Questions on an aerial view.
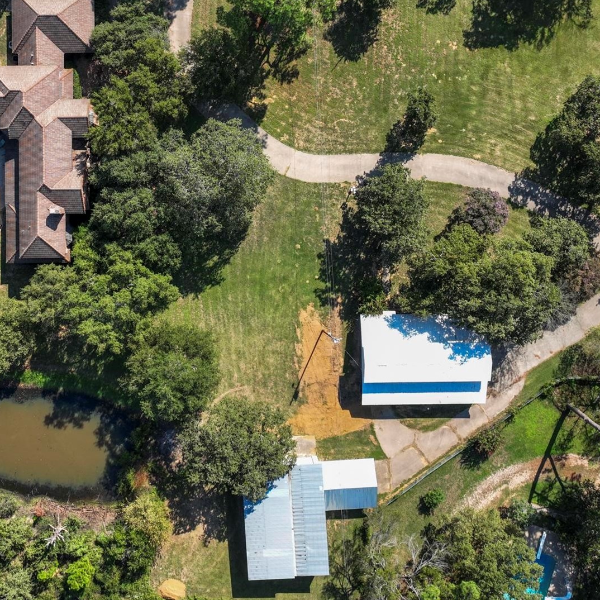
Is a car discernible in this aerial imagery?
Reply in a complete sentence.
No, the frame has no car in it.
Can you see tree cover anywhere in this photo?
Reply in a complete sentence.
Yes, tree cover shows up in the scene.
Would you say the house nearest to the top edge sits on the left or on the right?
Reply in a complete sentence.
The house nearest to the top edge appears in the left half of the scene.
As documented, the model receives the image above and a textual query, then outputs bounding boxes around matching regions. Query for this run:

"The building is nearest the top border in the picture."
[0,0,99,264]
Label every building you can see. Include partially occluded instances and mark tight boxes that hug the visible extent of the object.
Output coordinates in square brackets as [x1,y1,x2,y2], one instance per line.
[360,309,493,406]
[0,0,99,264]
[244,450,330,581]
